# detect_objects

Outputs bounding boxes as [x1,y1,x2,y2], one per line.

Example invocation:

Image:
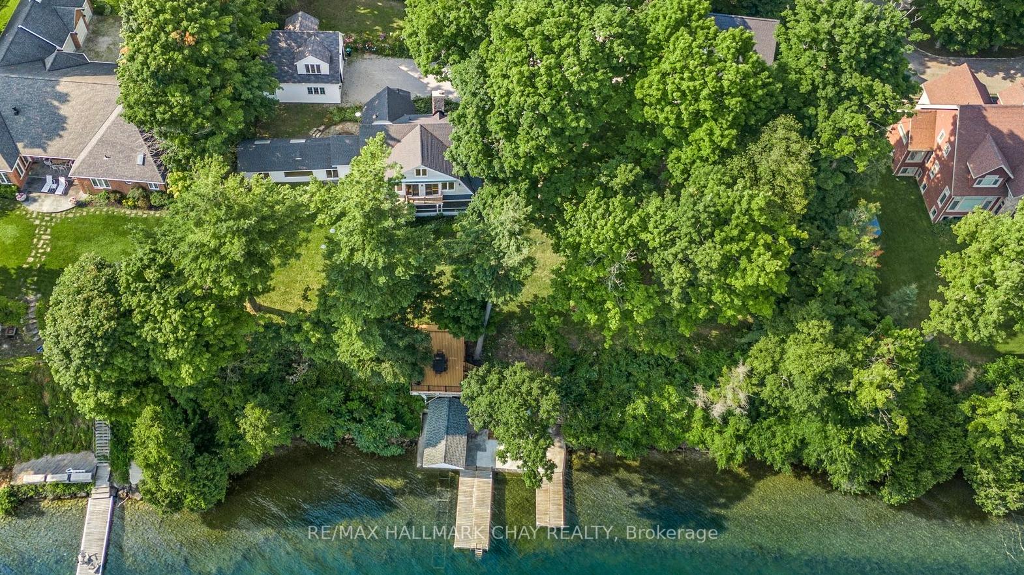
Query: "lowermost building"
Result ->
[423,399,468,470]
